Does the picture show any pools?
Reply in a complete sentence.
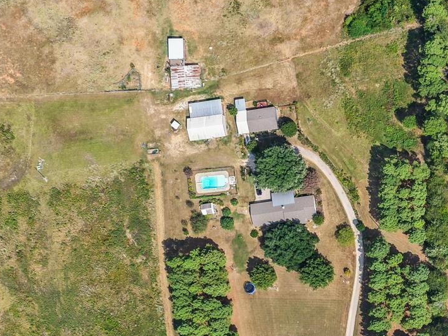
Yes, the frame does contain a pool.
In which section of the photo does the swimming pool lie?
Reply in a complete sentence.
The swimming pool is in the center part of the image.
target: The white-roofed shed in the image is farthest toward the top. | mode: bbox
[167,37,188,60]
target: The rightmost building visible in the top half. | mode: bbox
[246,106,279,132]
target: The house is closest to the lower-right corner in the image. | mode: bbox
[249,189,317,225]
